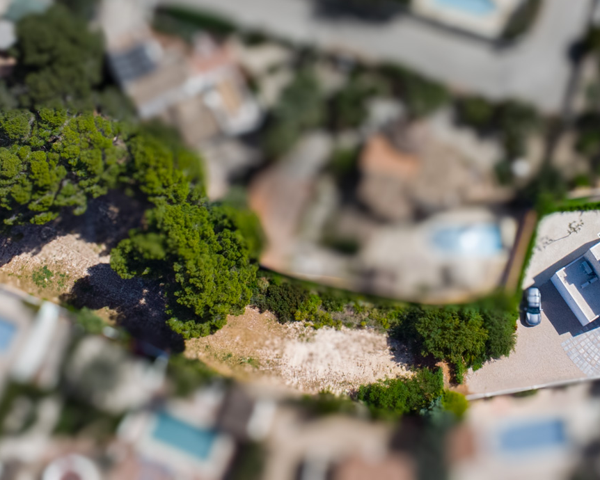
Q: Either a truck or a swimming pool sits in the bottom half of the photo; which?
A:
swimming pool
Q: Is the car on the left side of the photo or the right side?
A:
right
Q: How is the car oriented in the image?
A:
vertically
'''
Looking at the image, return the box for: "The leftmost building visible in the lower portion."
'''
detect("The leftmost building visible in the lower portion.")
[11,304,76,386]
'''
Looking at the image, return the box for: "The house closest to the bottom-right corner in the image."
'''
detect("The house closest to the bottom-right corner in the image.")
[452,412,487,457]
